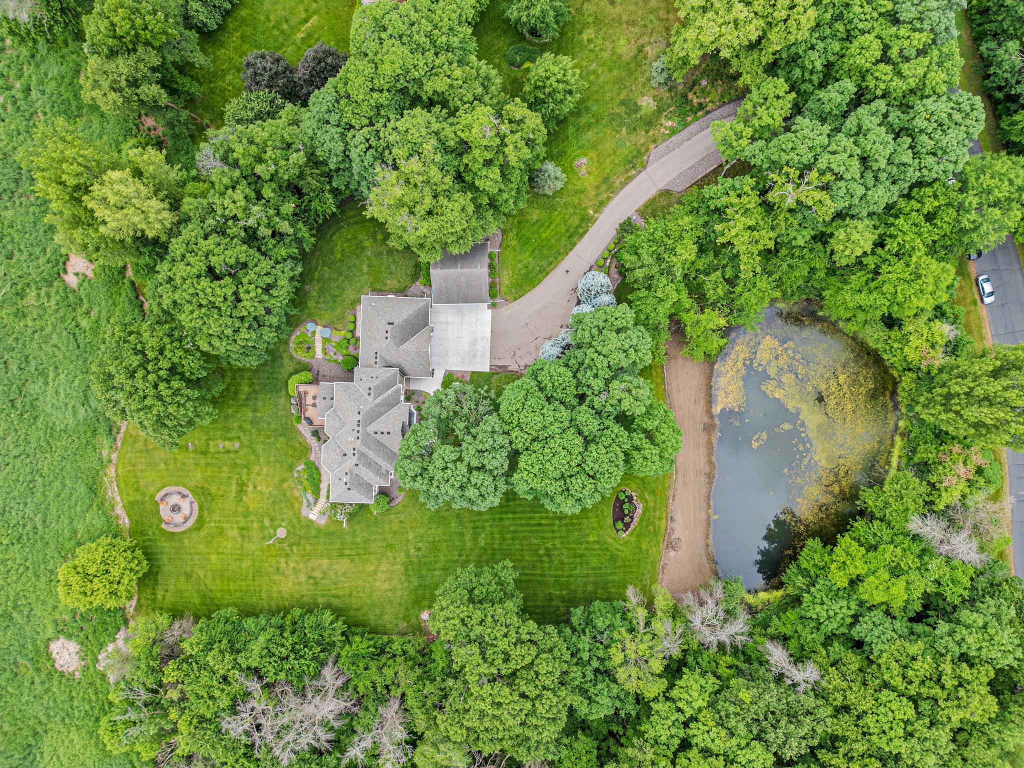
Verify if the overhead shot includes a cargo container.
No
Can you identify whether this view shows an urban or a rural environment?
rural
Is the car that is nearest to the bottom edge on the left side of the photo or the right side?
right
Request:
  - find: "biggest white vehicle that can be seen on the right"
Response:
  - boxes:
[976,274,996,305]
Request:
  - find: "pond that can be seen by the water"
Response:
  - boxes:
[710,300,900,591]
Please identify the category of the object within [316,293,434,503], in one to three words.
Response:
house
